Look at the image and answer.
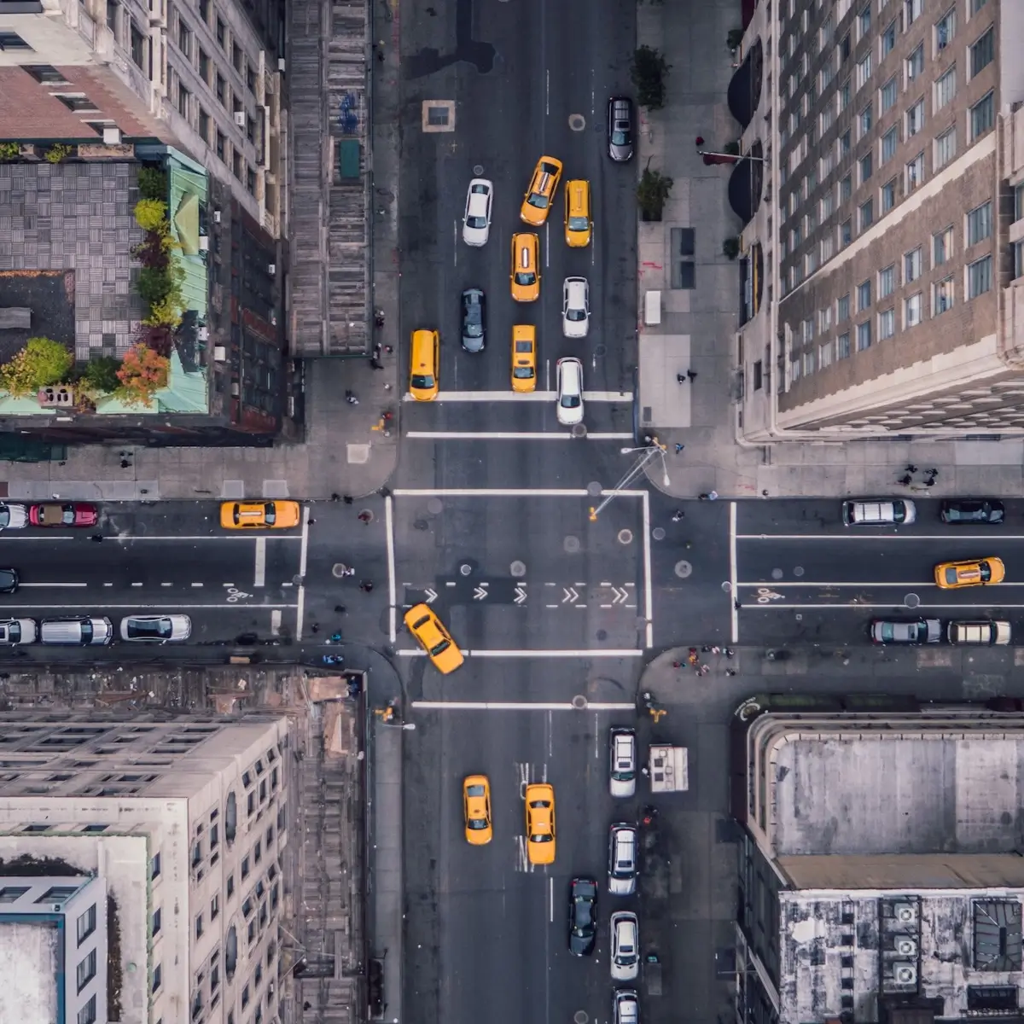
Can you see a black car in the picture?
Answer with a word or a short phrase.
Yes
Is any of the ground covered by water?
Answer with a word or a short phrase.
No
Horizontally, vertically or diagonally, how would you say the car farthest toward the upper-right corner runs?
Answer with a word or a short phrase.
vertically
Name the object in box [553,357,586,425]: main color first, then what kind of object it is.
white car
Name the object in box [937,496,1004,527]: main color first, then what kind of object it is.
black car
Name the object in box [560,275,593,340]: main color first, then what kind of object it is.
white car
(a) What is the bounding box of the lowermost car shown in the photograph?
[612,985,641,1024]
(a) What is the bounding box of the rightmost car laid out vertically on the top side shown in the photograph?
[606,96,637,165]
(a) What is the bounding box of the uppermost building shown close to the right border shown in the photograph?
[726,0,1024,449]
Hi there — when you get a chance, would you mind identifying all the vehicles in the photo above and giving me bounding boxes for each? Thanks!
[408,602,461,673]
[524,781,558,864]
[607,725,640,797]
[553,357,586,425]
[937,496,1004,527]
[508,232,542,303]
[522,156,560,229]
[567,874,600,954]
[0,565,25,596]
[0,499,36,532]
[606,96,637,165]
[457,288,488,353]
[562,179,594,249]
[840,496,915,528]
[508,325,539,393]
[609,907,641,981]
[38,615,116,648]
[407,328,441,403]
[560,275,593,340]
[612,985,641,1024]
[867,616,942,648]
[221,498,302,531]
[120,612,194,644]
[461,178,494,249]
[31,500,102,530]
[943,617,1011,648]
[930,555,1005,589]
[462,772,495,845]
[0,615,41,648]
[607,819,640,894]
